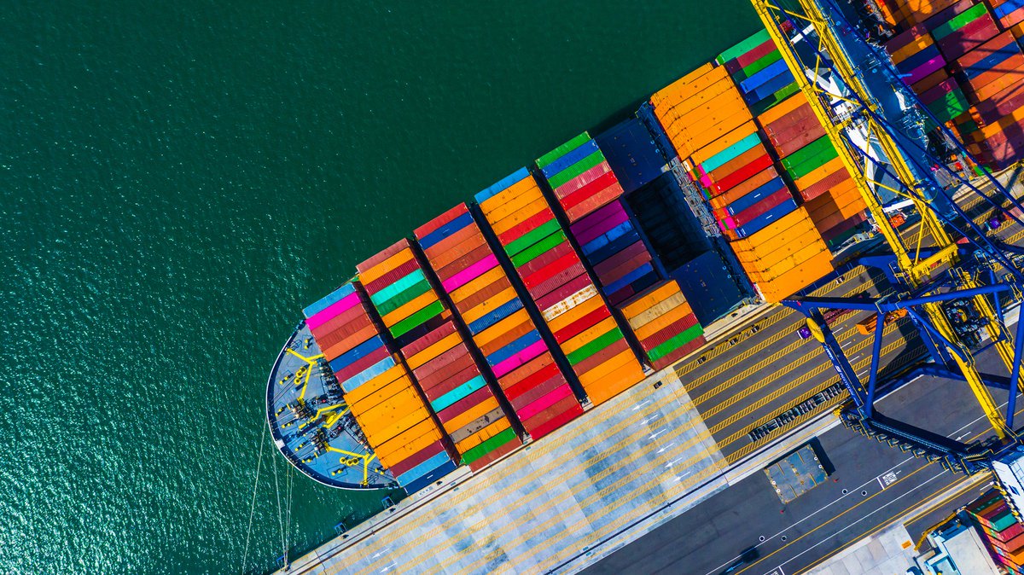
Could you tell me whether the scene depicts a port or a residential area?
port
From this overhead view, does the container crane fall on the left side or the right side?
right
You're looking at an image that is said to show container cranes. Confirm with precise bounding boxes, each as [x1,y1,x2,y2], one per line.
[745,0,1024,546]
